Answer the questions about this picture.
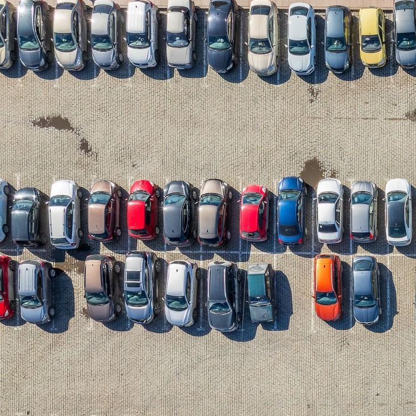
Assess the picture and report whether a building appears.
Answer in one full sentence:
No, there's no building here.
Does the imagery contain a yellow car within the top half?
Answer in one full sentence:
Yes, you'll find a yellow car within the top half.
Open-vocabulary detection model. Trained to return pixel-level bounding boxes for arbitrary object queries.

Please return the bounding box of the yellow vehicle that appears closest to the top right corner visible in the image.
[356,7,388,68]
